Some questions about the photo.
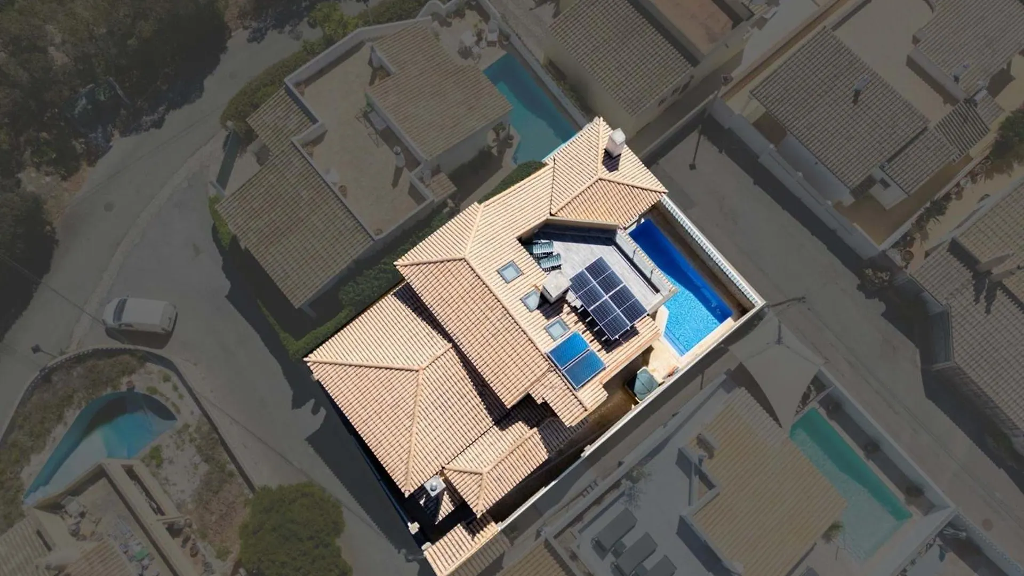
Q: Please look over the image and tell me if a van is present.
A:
Yes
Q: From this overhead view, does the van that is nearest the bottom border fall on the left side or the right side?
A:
left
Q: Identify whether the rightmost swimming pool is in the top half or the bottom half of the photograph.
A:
bottom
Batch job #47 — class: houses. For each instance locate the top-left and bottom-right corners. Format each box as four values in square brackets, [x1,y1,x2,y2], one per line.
[0,457,233,576]
[215,19,512,310]
[889,174,1024,442]
[747,0,1024,222]
[549,0,794,140]
[303,116,675,576]
[502,367,848,576]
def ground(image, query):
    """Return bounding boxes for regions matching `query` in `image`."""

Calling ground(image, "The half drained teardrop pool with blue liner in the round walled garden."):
[24,392,176,505]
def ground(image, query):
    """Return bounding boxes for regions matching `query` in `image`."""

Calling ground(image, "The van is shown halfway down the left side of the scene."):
[103,298,179,338]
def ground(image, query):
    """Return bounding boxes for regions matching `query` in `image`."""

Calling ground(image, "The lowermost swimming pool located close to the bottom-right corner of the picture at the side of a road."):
[783,402,919,576]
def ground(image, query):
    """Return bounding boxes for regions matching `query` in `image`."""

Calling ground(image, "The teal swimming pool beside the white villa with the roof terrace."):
[482,52,575,164]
